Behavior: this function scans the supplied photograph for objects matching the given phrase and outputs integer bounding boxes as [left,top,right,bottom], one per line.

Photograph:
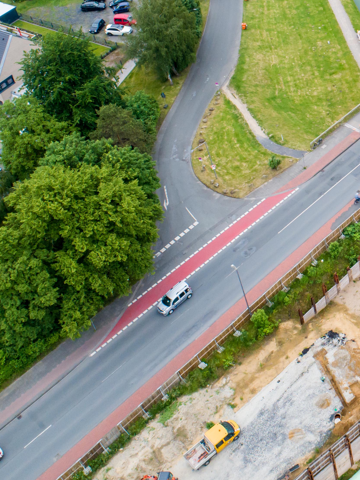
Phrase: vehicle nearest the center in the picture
[154,280,196,319]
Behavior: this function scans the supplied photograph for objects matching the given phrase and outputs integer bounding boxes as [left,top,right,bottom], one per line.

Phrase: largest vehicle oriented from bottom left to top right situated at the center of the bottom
[177,420,240,479]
